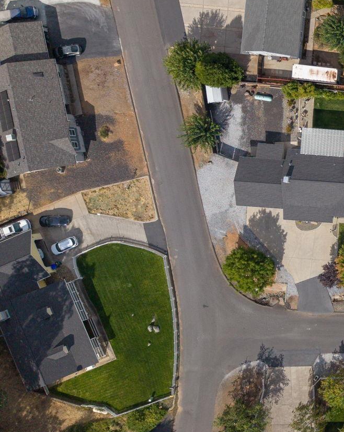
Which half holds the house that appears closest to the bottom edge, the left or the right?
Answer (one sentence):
The house that appears closest to the bottom edge appears in the left half of the scene.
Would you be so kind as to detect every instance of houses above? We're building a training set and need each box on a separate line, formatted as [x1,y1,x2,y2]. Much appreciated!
[240,0,311,60]
[0,229,109,391]
[0,20,90,180]
[233,143,344,223]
